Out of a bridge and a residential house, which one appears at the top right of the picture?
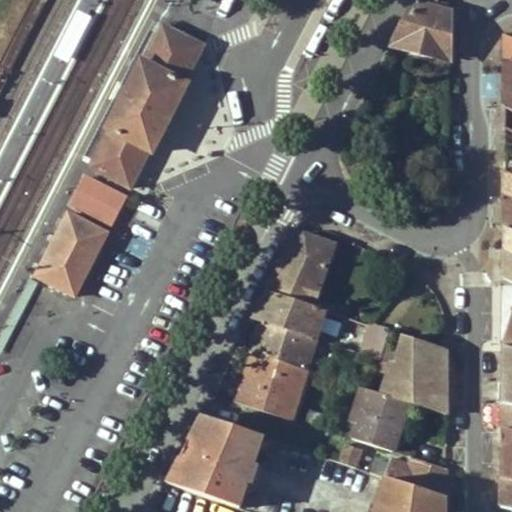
residential house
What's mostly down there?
paved ground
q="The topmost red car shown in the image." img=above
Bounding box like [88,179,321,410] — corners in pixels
[166,282,186,298]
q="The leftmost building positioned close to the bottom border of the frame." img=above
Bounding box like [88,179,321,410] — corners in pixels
[165,413,264,511]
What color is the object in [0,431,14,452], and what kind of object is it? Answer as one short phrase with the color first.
white car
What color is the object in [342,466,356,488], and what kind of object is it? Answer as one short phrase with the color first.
white vehicle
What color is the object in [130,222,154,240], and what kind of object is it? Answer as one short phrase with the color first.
white vehicle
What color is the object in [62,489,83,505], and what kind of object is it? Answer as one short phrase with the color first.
white car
